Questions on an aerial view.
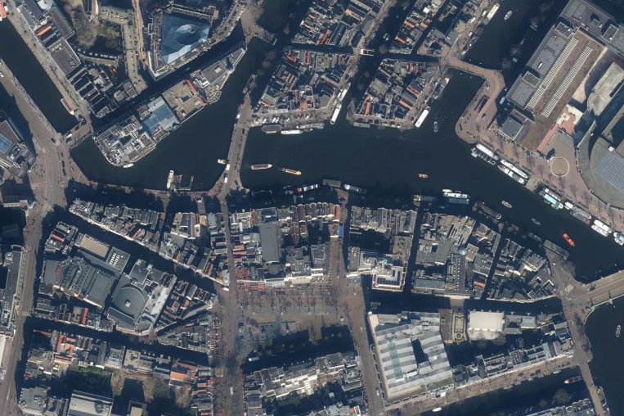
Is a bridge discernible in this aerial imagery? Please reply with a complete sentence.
Yes, the image includes a bridge.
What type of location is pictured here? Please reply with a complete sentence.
The area seen from above is a residential area.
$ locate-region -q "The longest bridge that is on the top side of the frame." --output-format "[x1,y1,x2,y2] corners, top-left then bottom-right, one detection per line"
[208,88,253,192]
